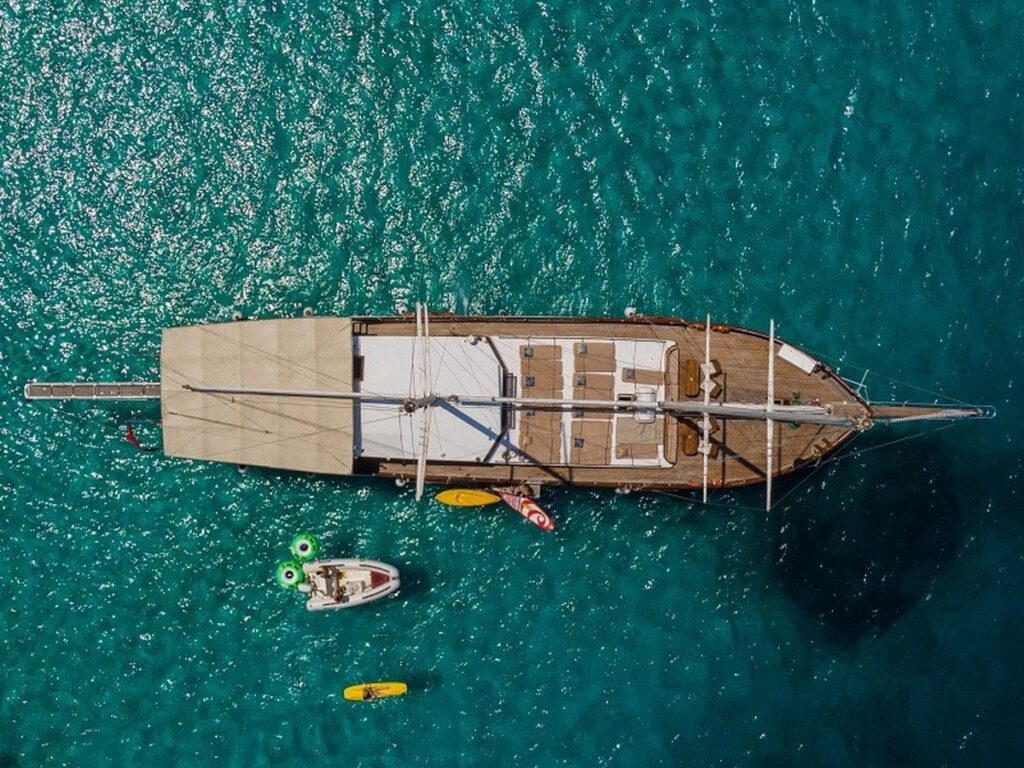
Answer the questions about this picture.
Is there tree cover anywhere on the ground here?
No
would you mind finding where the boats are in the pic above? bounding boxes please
[298,559,400,611]
[436,488,500,506]
[24,303,997,511]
